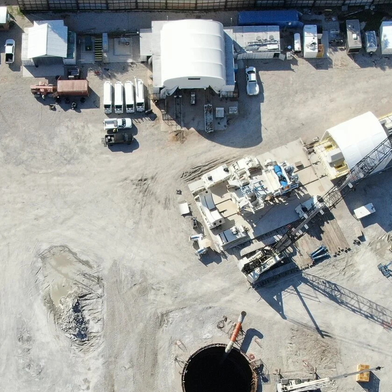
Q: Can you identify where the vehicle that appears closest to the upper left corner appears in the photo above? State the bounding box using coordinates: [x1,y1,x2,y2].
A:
[3,38,16,67]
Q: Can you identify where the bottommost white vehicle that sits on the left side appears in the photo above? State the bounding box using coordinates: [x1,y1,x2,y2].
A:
[103,117,133,130]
